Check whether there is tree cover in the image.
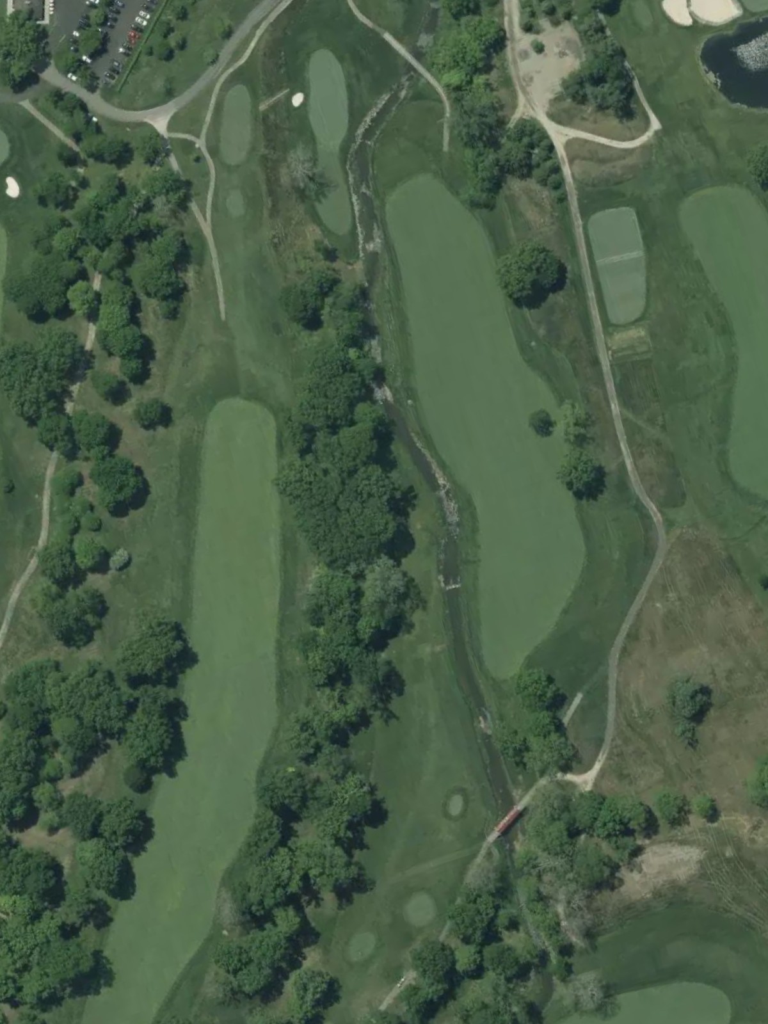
Yes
